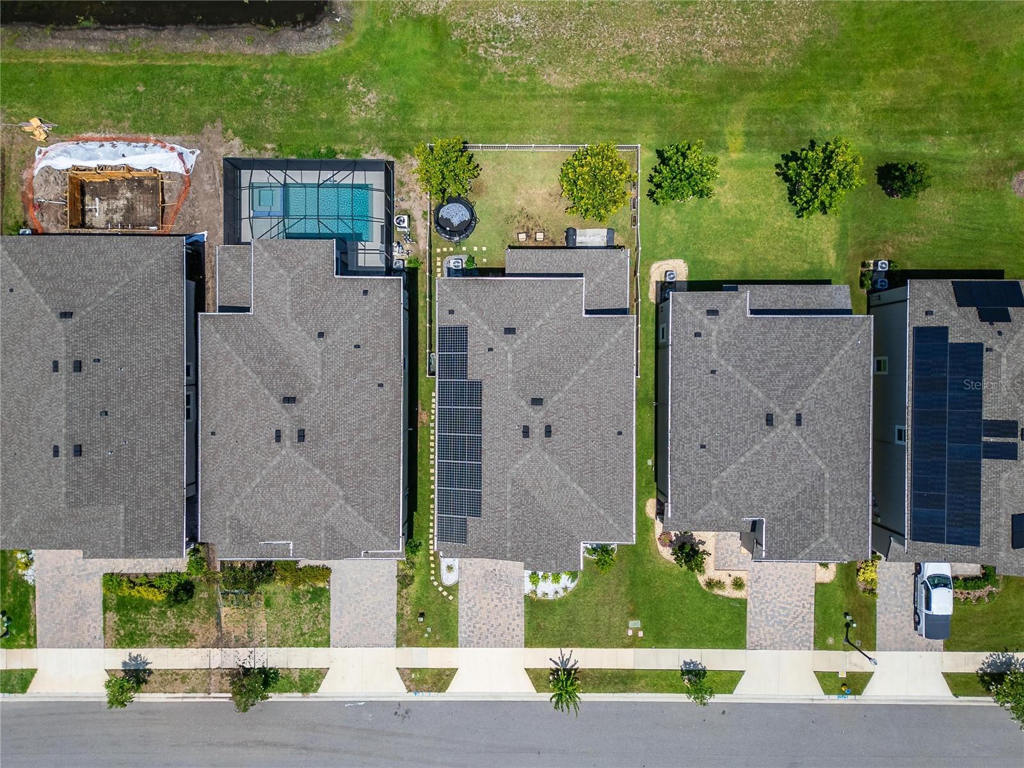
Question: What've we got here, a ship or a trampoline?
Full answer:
The one in the frame is a trampoline.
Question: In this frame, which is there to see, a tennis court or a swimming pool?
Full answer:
Visible in the photo is a swimming pool.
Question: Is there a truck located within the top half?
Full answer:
No, there's no truck to be seen within the top half.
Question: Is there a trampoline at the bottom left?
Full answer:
No, looking at the bottom left, there is no trampoline.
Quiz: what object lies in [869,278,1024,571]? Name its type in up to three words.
house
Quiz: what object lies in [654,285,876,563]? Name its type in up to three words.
house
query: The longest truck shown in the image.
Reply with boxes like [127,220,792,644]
[913,561,954,638]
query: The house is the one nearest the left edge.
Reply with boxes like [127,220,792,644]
[0,233,215,559]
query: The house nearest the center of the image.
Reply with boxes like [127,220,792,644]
[435,247,637,570]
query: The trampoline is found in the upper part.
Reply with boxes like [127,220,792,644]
[434,197,478,247]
